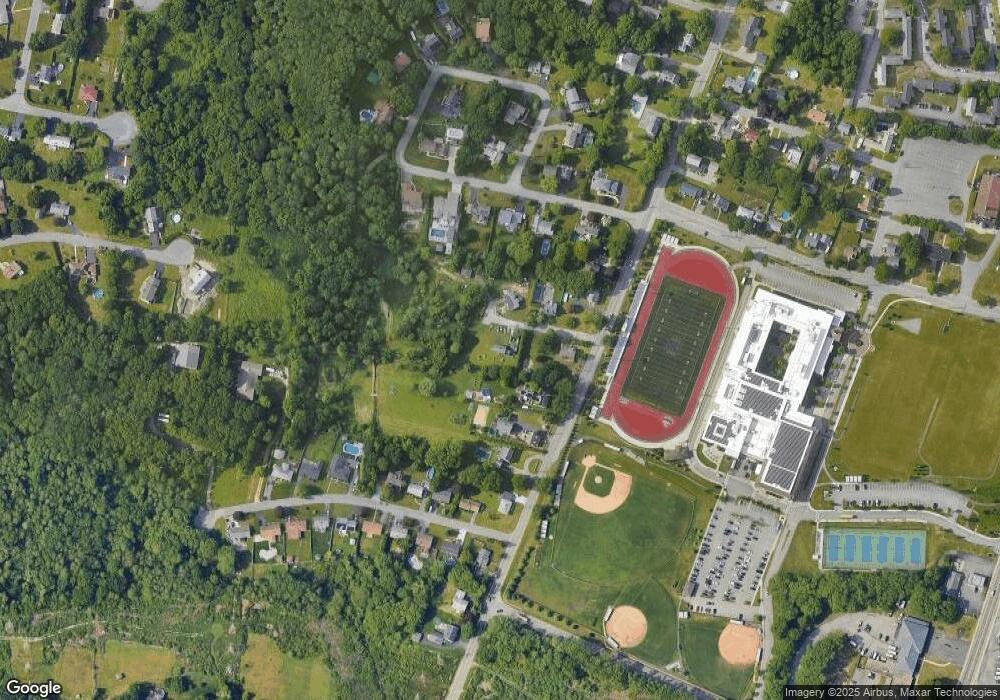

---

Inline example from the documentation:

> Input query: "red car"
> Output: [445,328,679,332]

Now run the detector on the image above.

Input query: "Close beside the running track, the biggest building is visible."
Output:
[702,288,846,492]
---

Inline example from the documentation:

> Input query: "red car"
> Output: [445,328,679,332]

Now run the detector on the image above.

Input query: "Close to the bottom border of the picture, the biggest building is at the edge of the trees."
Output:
[893,614,931,676]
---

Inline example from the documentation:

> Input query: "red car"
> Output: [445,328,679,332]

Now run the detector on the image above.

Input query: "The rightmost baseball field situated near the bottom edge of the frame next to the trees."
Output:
[681,619,760,700]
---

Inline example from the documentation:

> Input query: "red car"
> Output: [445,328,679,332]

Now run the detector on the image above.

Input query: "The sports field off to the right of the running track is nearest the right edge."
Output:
[822,300,1000,521]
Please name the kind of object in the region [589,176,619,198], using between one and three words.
house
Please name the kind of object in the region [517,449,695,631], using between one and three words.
baseball field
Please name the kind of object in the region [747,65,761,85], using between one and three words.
swimming pool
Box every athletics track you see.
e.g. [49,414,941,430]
[603,242,735,442]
